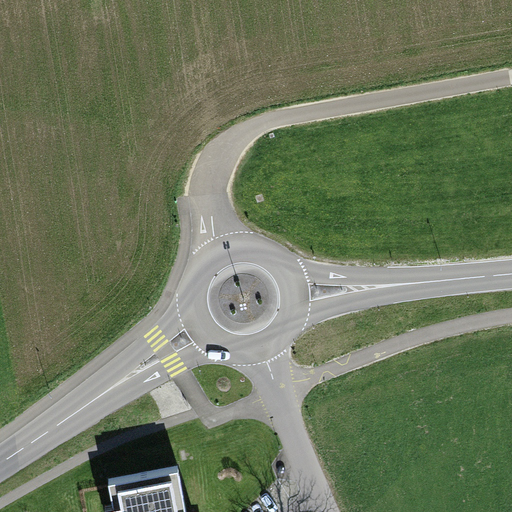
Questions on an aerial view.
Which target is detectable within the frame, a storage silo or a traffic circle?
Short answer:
traffic circle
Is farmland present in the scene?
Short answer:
Yes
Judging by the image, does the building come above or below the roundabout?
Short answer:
below it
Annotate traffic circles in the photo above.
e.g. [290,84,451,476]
[118,196,385,404]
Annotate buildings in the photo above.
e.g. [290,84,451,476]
[102,465,192,512]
